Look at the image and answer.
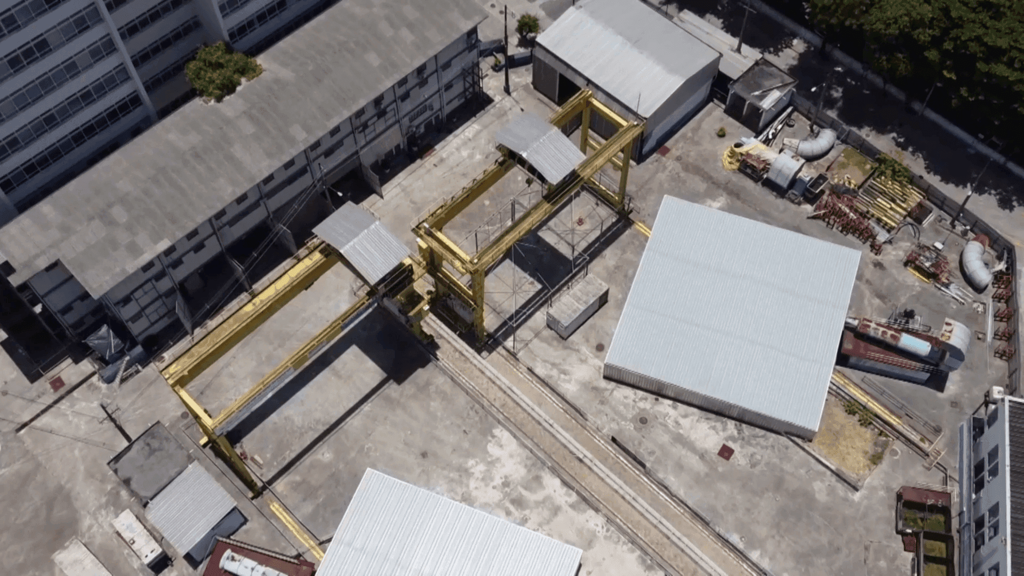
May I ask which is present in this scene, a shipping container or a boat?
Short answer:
shipping container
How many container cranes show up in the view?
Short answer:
two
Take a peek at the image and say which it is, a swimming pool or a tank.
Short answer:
tank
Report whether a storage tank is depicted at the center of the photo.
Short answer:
No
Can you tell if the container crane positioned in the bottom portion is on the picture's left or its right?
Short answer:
left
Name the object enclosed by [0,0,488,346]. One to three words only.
building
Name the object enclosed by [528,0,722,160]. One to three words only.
hangar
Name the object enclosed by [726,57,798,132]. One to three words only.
shed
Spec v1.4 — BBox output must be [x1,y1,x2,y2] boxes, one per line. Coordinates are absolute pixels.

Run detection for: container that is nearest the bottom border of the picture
[547,274,608,339]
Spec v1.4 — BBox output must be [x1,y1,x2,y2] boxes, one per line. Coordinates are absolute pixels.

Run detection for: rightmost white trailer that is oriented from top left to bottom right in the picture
[111,508,170,574]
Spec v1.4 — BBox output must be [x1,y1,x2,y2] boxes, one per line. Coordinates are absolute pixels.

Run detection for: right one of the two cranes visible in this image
[406,85,646,345]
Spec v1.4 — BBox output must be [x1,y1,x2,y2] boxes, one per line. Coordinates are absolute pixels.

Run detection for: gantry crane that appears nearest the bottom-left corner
[154,238,441,497]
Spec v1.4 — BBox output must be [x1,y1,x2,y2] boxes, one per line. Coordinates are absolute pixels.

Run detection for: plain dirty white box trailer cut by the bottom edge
[53,539,107,576]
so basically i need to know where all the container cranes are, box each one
[406,85,646,345]
[154,238,441,497]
